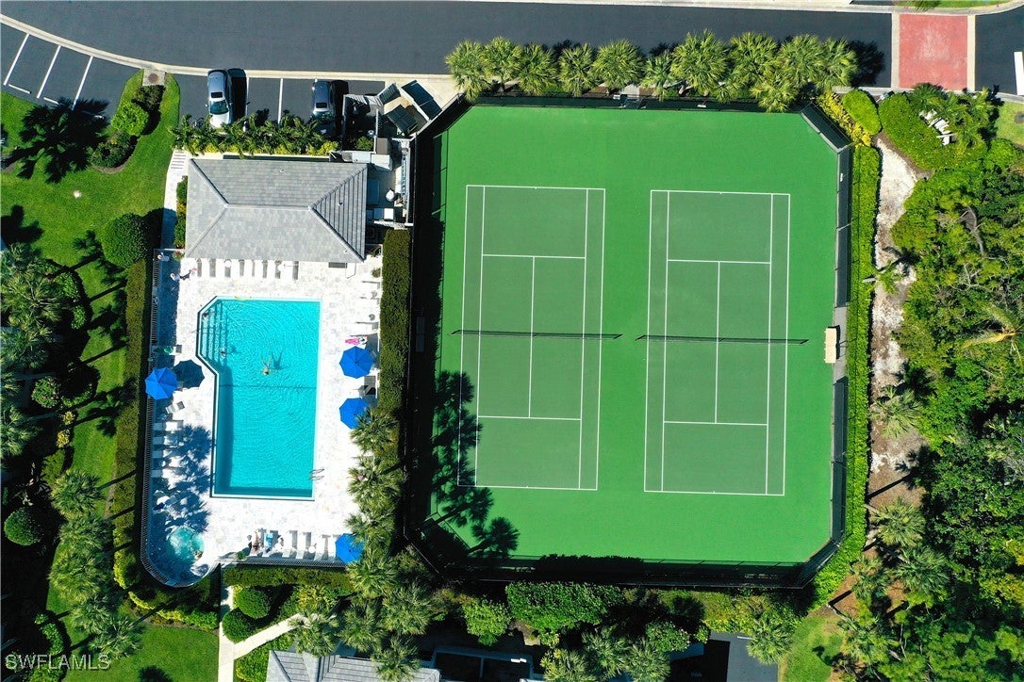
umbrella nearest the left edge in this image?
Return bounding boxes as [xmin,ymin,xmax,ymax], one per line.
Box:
[145,367,179,400]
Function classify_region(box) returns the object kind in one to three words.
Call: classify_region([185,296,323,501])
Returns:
swimming pool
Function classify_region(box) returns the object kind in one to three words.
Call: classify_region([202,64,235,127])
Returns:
car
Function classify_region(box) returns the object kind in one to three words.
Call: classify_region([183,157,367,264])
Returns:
building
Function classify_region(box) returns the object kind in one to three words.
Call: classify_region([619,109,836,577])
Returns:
tennis court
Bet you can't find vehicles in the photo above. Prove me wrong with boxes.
[308,74,339,137]
[202,64,235,127]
